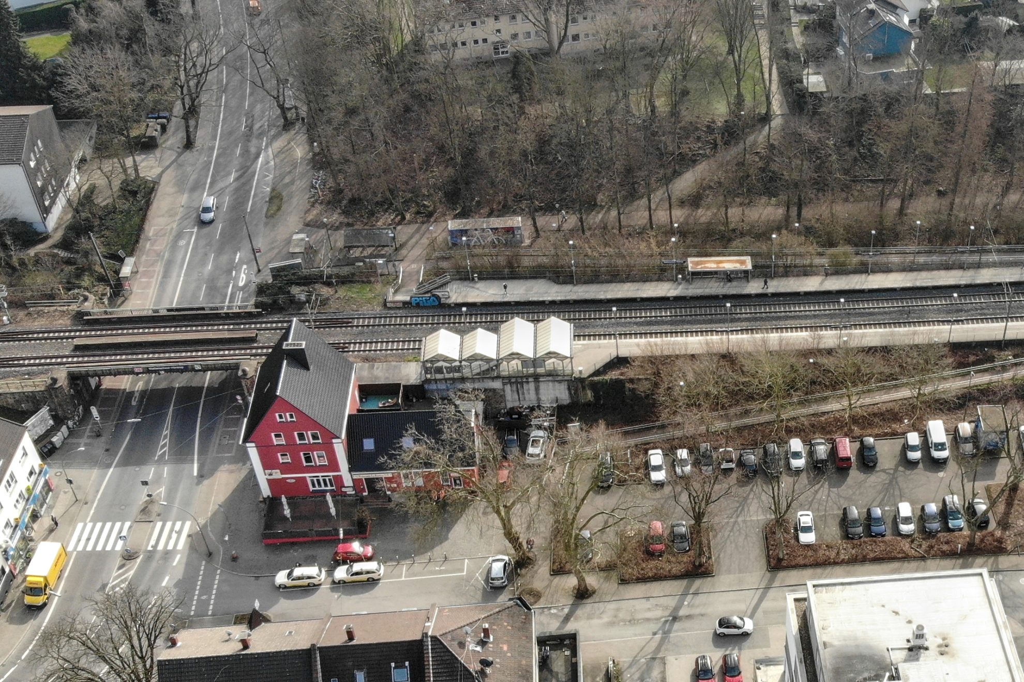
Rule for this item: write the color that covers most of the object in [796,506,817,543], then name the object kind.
white car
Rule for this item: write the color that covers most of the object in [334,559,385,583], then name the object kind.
white car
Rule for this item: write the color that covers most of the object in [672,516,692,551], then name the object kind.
gray car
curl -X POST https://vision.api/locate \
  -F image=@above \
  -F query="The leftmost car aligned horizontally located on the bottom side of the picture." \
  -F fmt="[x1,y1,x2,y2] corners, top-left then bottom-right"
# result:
[277,566,328,590]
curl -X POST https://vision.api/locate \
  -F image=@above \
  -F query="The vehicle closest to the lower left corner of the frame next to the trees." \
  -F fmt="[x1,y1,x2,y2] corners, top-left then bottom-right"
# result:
[21,536,72,608]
